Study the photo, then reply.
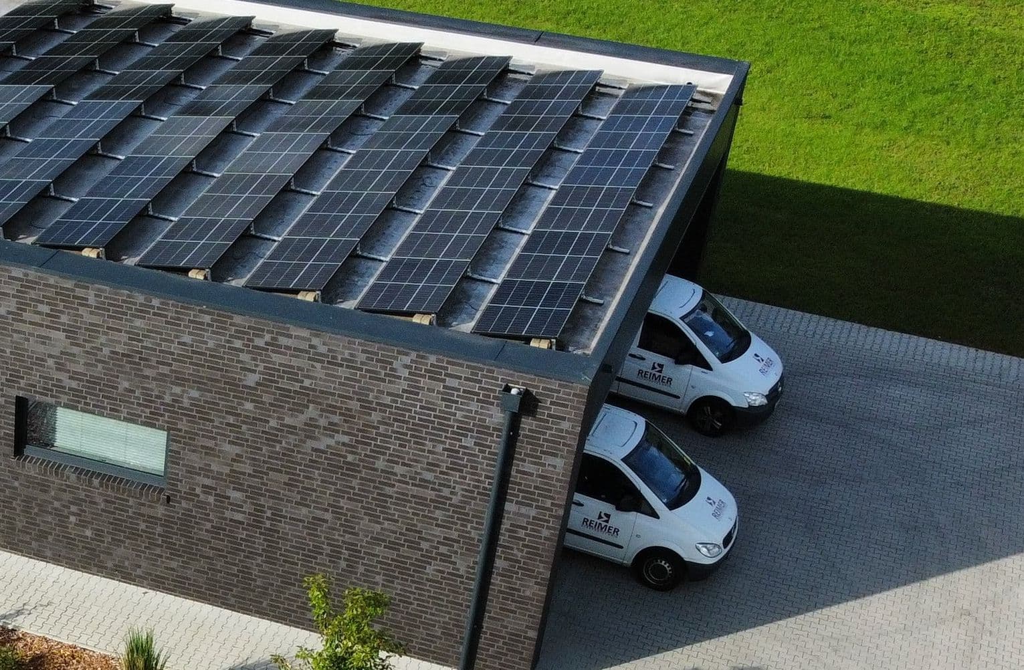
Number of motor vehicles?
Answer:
2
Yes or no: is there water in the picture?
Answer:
No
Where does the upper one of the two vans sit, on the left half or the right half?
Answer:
right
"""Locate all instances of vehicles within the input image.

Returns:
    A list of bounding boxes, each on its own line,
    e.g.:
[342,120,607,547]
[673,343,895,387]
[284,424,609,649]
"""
[563,404,741,588]
[605,274,785,435]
